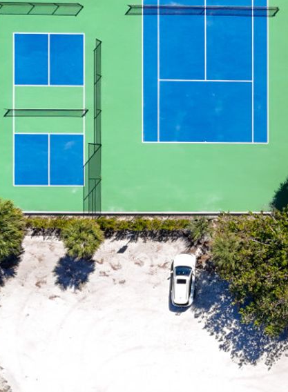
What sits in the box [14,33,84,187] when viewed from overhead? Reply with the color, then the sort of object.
blue sports court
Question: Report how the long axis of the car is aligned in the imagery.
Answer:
vertically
